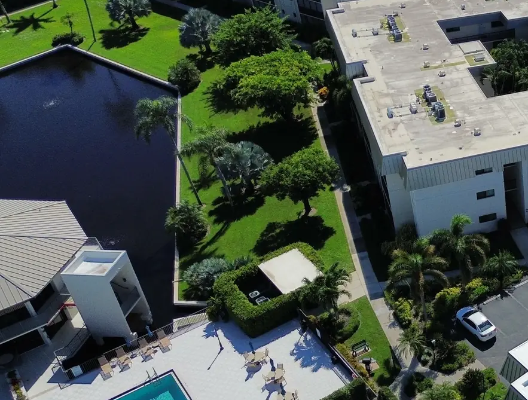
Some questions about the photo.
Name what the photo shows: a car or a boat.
car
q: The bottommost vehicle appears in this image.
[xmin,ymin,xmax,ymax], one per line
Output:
[455,307,501,344]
